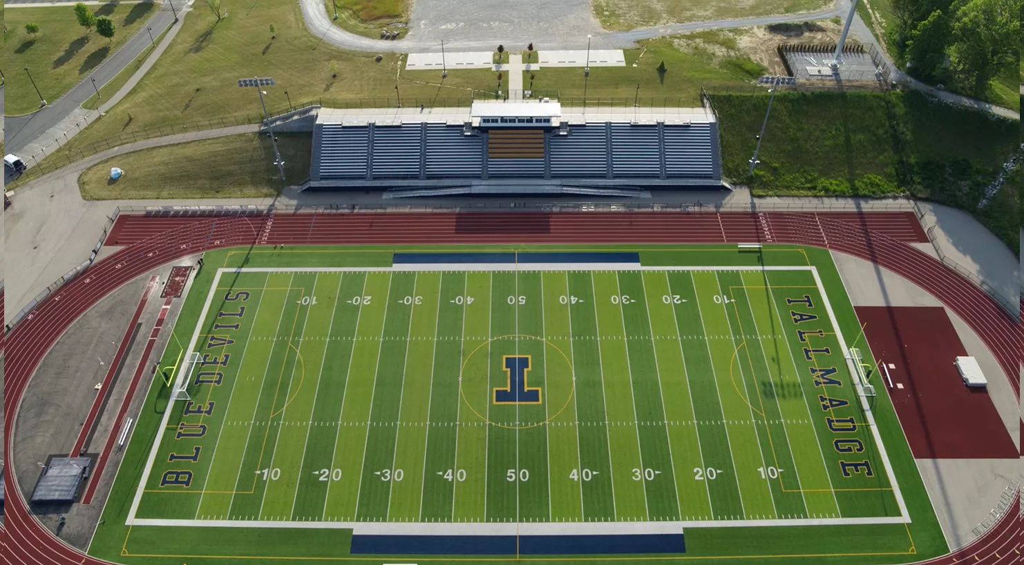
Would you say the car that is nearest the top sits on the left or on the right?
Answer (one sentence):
You can find the car that is nearest the top on the left side of the picture.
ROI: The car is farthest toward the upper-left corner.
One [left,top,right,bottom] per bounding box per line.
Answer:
[2,152,26,172]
